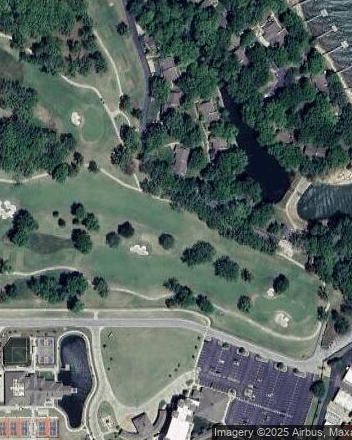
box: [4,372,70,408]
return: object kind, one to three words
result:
building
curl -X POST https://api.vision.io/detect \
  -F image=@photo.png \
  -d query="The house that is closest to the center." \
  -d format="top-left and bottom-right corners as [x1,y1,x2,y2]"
[170,144,190,173]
